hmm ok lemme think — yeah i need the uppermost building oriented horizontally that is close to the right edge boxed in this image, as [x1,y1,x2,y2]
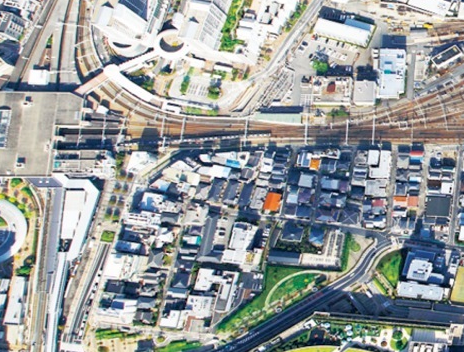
[406,0,450,19]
